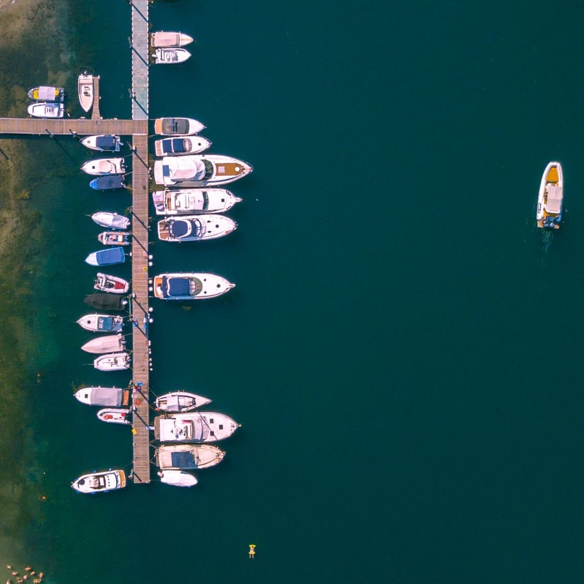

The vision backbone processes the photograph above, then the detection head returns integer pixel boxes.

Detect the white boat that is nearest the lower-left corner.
[69,465,130,494]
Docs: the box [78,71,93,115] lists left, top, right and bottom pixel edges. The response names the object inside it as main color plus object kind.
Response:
white boat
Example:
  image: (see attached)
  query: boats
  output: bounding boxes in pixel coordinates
[152,117,207,136]
[152,48,192,64]
[91,274,130,292]
[27,86,65,101]
[69,465,130,494]
[152,469,199,486]
[76,313,129,332]
[85,247,126,266]
[150,135,214,155]
[151,444,227,469]
[150,390,212,412]
[149,153,254,189]
[97,408,129,423]
[151,271,239,301]
[153,409,243,442]
[77,135,123,152]
[536,162,564,228]
[85,213,132,231]
[78,71,93,115]
[84,351,132,370]
[150,215,240,243]
[80,333,131,354]
[149,188,243,215]
[79,157,127,176]
[150,30,193,47]
[72,384,132,405]
[99,230,131,245]
[89,173,130,191]
[84,293,127,309]
[27,102,67,118]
